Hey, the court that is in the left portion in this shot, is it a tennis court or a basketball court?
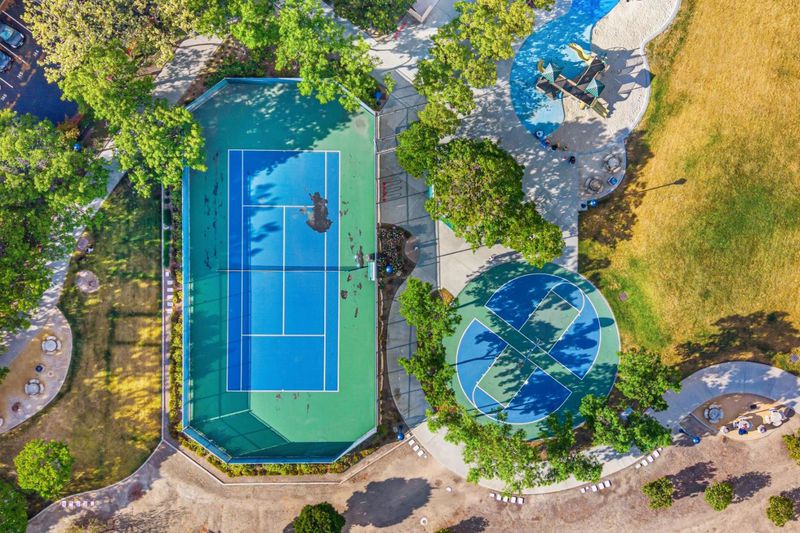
tennis court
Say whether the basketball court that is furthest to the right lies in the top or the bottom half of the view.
bottom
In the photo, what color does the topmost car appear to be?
blue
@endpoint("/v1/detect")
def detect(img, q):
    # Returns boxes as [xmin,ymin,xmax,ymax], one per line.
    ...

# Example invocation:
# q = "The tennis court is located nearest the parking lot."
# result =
[189,83,376,457]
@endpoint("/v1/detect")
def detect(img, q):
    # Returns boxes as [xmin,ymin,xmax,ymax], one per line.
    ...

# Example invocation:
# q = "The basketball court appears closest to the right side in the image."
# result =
[443,259,622,442]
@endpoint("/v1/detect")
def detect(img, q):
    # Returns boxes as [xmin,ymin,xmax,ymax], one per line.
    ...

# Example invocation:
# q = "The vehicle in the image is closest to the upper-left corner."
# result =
[0,14,24,46]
